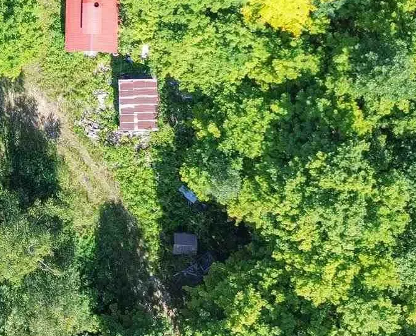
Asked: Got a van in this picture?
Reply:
No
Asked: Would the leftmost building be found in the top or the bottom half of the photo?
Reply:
top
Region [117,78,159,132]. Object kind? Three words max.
shed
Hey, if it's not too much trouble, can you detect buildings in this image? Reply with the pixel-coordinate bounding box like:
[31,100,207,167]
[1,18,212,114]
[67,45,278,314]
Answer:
[117,78,159,132]
[172,228,198,254]
[65,0,118,57]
